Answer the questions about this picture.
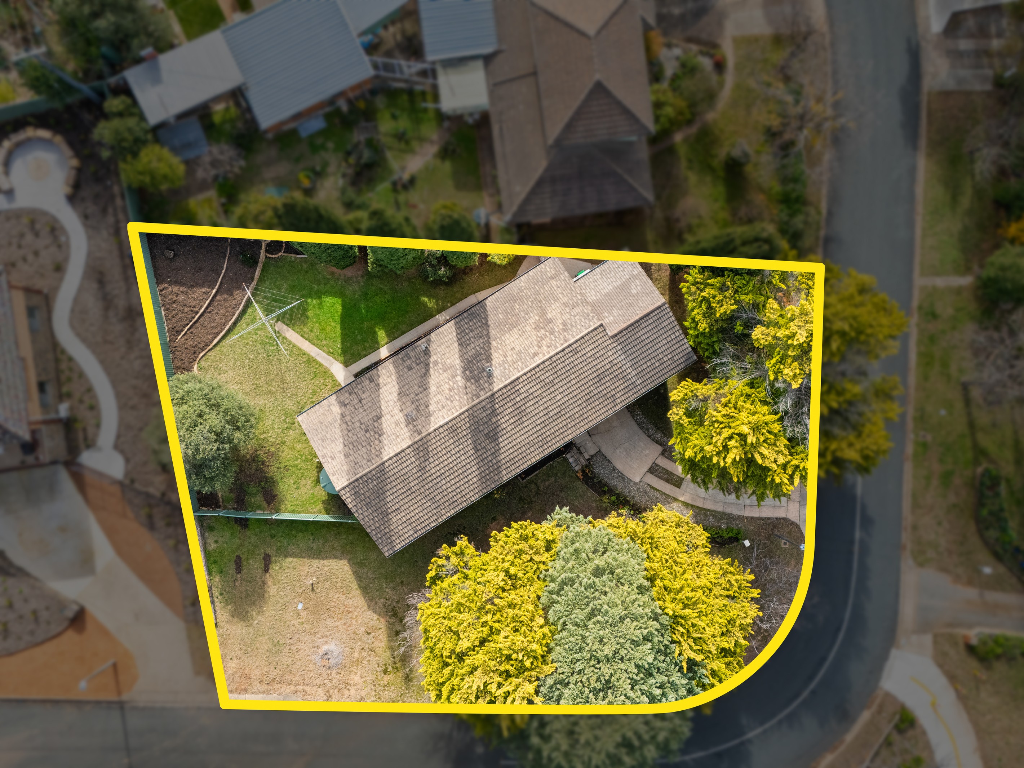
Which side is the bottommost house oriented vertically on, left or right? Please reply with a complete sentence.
The bottommost house oriented vertically is on the left side of the image.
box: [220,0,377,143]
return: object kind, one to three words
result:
building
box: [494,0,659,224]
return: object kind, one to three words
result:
house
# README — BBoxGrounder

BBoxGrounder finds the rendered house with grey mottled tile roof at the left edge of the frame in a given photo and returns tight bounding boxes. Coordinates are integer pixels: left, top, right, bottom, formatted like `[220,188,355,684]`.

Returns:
[0,271,78,466]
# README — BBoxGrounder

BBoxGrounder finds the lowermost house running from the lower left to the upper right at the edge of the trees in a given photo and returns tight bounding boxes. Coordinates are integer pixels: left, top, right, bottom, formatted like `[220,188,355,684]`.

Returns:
[296,246,698,559]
